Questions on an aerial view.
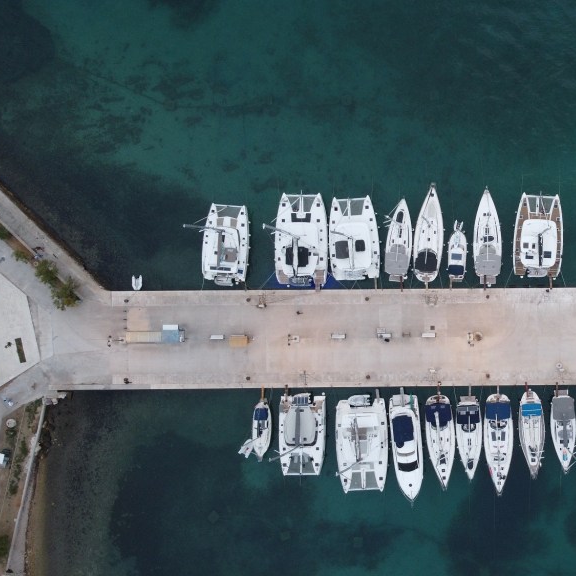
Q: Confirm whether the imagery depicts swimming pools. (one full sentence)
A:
No, there isn't any swimming pool down there.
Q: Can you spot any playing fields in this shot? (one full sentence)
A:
No, the photo shows no playing field.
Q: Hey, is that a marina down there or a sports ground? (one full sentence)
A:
The picture captures a marina.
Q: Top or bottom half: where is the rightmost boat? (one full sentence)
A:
Seen from above, the rightmost boat lies in the bottom half of the view.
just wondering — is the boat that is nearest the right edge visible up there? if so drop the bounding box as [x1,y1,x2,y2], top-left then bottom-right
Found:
[549,382,576,475]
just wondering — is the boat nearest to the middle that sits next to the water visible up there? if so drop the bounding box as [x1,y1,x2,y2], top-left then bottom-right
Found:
[287,274,312,288]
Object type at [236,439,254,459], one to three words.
boat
